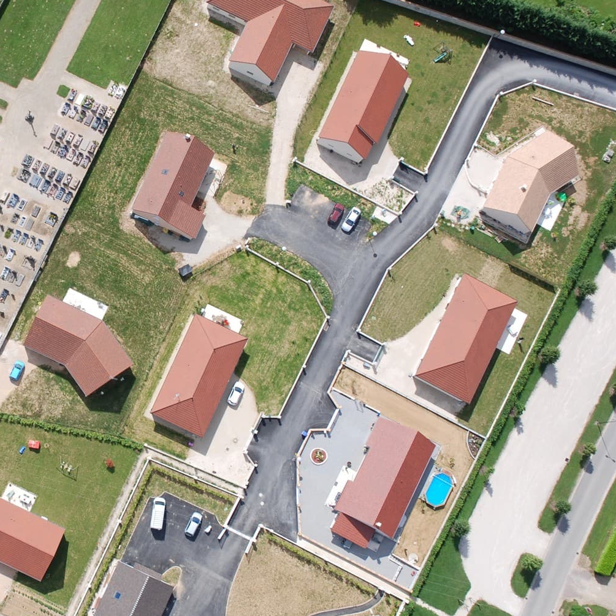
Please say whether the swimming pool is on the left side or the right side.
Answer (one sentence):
It is on the right.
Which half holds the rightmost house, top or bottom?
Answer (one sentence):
The rightmost house is in the top half of the image.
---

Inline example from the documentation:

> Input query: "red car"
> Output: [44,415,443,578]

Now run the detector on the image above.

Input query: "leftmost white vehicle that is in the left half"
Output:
[151,498,167,531]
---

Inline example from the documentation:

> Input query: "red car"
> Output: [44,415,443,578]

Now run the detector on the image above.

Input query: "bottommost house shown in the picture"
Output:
[95,562,174,616]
